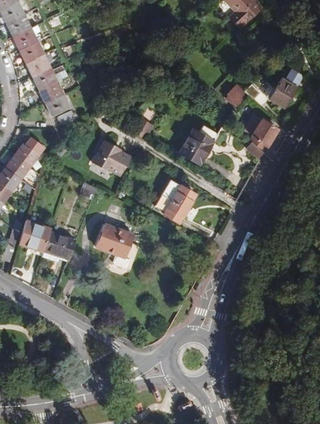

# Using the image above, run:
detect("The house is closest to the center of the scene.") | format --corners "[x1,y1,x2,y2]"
[156,180,198,226]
